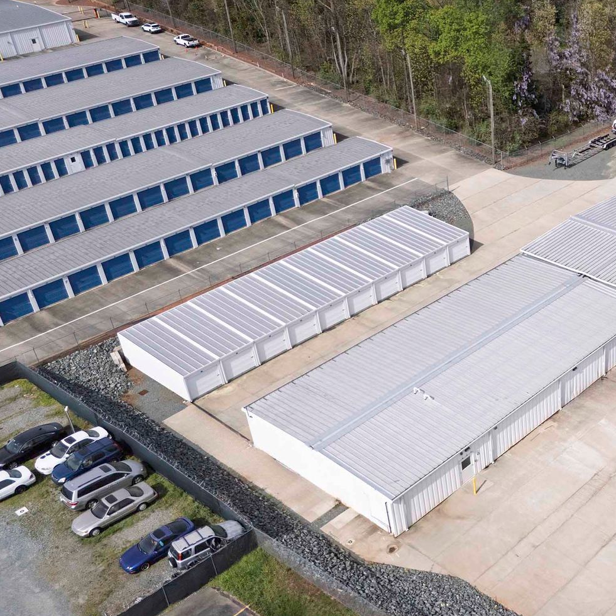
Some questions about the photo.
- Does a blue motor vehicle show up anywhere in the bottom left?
Yes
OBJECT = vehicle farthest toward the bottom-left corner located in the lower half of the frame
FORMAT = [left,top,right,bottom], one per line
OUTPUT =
[0,471,42,511]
